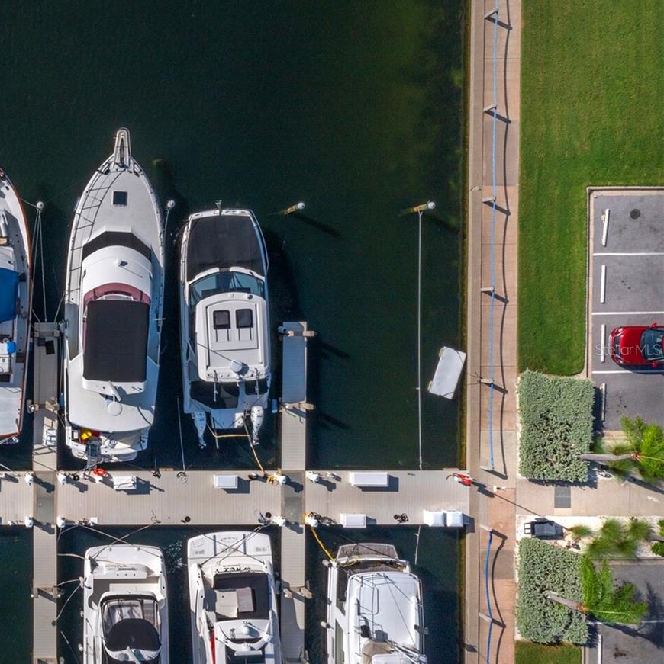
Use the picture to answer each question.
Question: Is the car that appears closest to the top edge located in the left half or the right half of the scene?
right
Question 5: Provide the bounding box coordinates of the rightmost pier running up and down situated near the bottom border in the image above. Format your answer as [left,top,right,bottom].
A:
[279,526,305,659]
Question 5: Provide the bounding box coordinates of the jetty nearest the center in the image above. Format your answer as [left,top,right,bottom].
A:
[279,322,305,471]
